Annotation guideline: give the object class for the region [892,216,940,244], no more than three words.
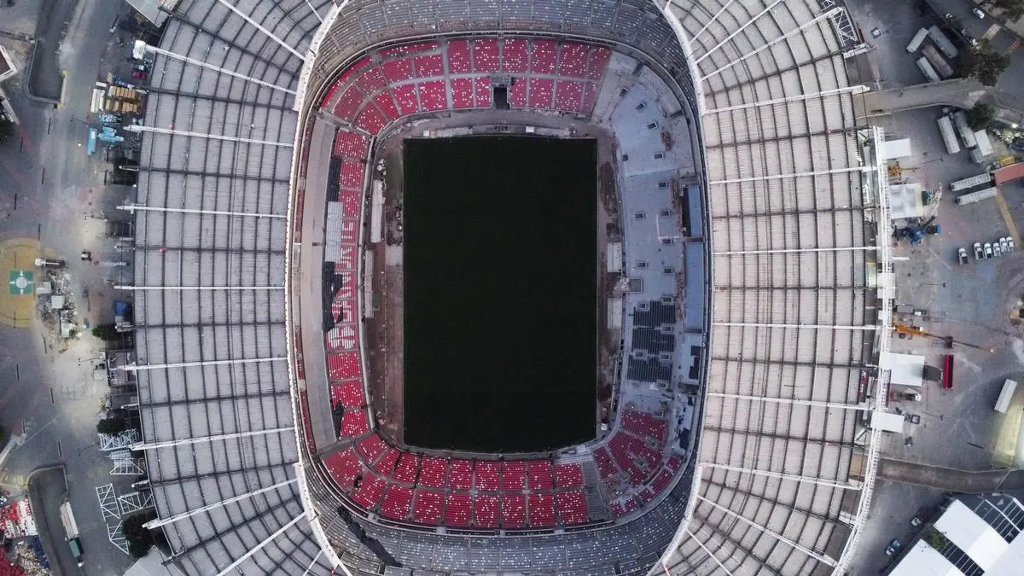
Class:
truck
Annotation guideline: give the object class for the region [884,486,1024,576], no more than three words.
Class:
building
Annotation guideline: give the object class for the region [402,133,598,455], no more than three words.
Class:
soccer field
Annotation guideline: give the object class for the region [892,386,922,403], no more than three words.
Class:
vehicle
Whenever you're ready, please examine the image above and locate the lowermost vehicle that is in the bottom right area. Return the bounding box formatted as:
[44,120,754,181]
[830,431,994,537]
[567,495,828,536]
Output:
[884,539,899,555]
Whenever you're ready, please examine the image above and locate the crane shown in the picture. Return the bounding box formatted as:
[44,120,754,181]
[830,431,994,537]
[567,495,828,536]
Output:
[892,319,993,351]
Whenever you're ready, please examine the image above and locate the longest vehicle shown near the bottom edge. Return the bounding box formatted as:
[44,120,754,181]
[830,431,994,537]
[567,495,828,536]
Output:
[60,500,86,567]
